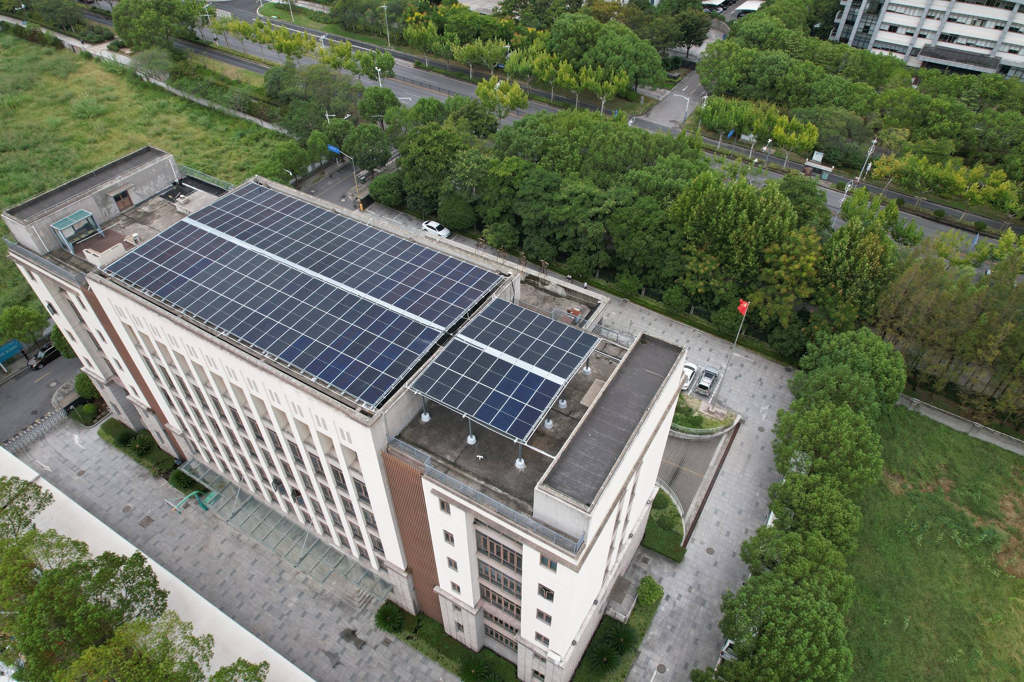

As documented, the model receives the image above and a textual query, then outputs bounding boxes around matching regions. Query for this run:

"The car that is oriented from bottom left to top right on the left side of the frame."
[18,333,64,366]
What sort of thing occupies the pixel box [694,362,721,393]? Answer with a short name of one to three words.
car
